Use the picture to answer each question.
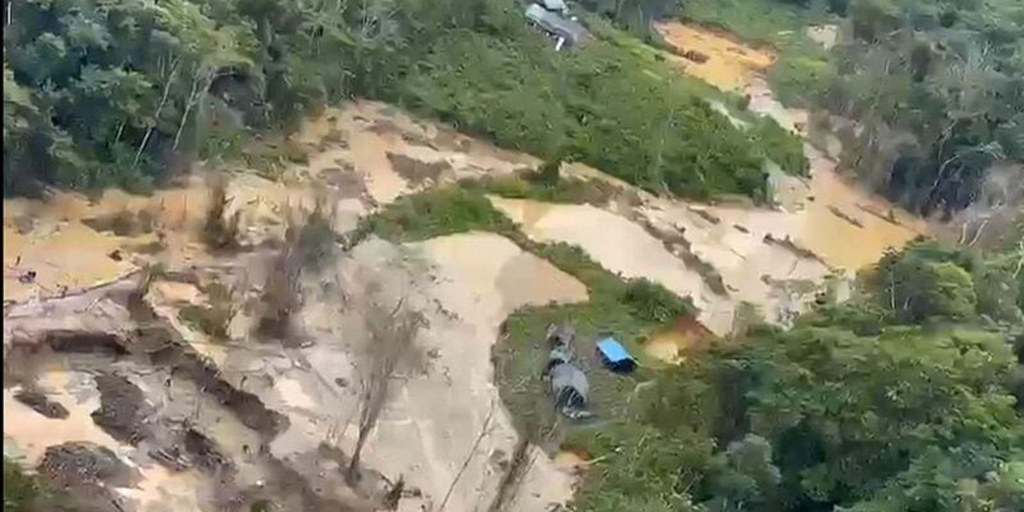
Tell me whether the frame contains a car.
No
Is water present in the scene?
Yes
